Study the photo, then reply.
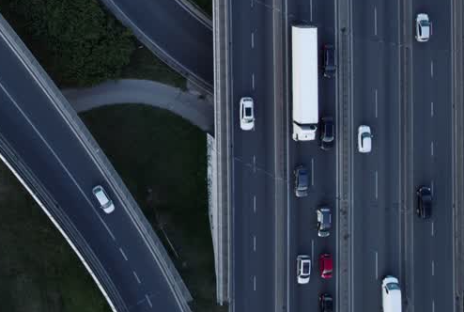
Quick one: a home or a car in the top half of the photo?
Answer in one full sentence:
The feature located in the top half of the photo is a car.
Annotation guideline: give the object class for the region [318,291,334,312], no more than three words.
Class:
car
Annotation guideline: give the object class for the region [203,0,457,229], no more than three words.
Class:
bridge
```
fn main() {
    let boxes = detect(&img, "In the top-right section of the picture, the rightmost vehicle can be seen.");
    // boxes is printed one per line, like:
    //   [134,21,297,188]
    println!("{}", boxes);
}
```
[415,13,431,41]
